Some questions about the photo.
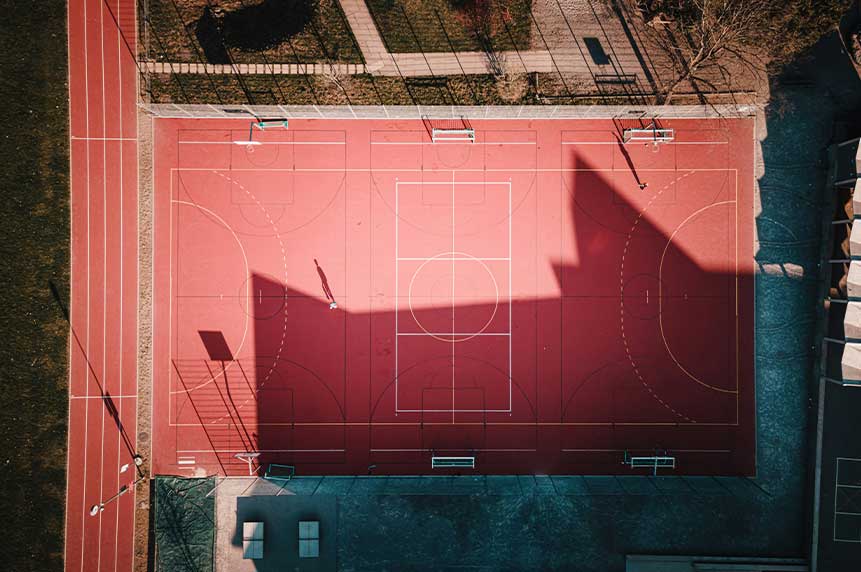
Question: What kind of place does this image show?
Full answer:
The area seen from above is a sports ground.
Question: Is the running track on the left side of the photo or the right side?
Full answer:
You can find the running track on the left side of the picture.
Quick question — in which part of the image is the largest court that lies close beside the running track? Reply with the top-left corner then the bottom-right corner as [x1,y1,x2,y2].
[151,114,758,479]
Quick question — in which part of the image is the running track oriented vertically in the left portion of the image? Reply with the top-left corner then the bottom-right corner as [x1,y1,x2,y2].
[64,0,140,572]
